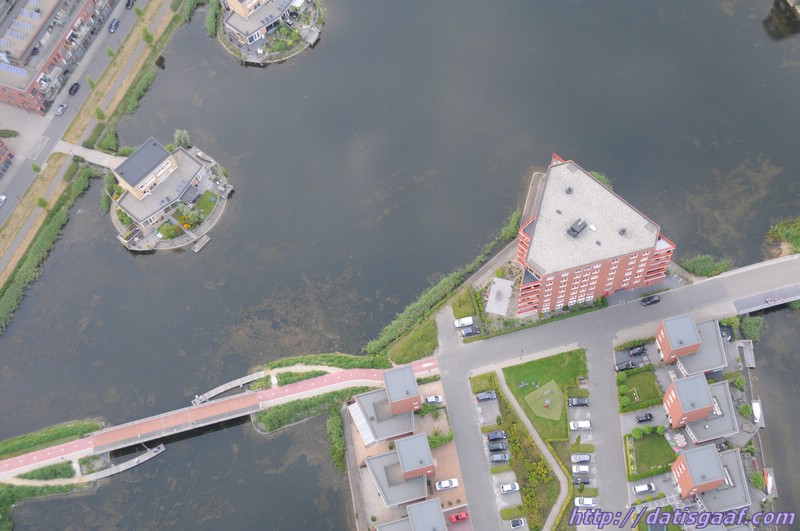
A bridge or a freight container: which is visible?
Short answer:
bridge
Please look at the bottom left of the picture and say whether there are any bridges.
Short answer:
Yes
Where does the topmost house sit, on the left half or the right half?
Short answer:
left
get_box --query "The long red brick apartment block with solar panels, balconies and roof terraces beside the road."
[0,0,122,117]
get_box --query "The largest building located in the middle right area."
[516,153,676,314]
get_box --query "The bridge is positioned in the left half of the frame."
[92,391,263,456]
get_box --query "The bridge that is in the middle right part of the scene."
[720,251,800,315]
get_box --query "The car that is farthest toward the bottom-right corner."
[632,483,657,495]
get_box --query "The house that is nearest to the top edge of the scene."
[224,0,295,46]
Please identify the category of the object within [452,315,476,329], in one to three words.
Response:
vehicle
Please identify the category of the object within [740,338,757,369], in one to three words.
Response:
pier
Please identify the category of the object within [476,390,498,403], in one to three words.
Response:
vehicle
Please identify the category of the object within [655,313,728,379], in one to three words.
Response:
house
